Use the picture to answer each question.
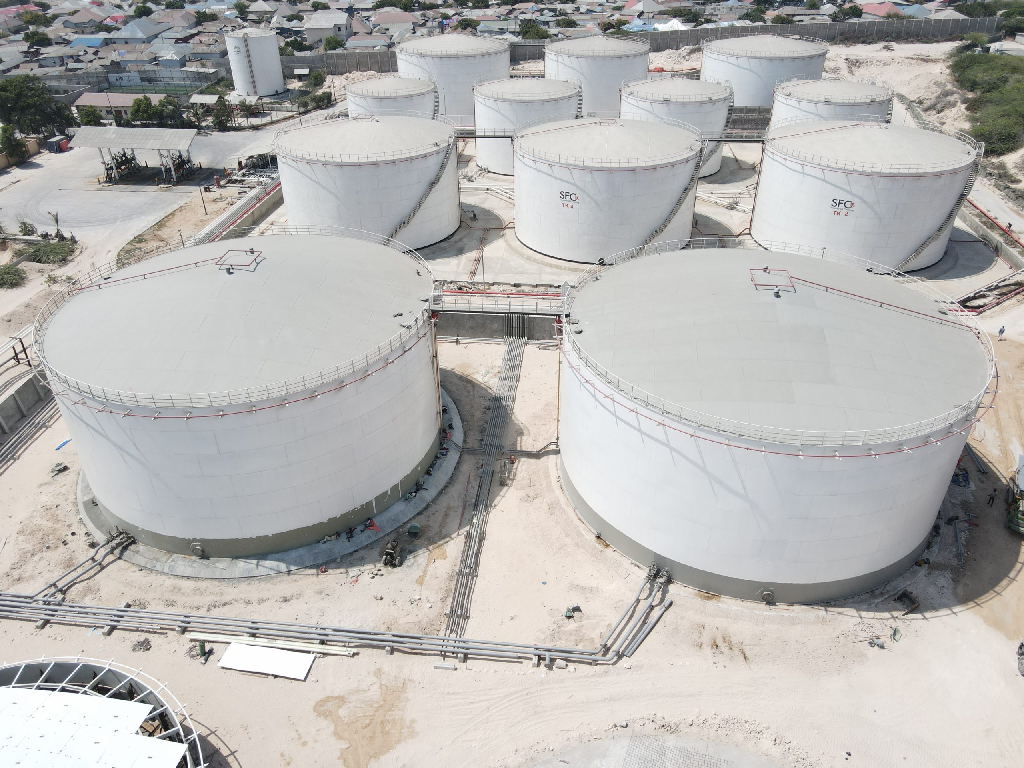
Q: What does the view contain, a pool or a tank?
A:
tank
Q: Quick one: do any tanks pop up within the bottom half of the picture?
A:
Yes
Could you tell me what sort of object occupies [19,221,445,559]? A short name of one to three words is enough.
storage tank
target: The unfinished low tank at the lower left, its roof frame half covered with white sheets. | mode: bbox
[0,648,215,768]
